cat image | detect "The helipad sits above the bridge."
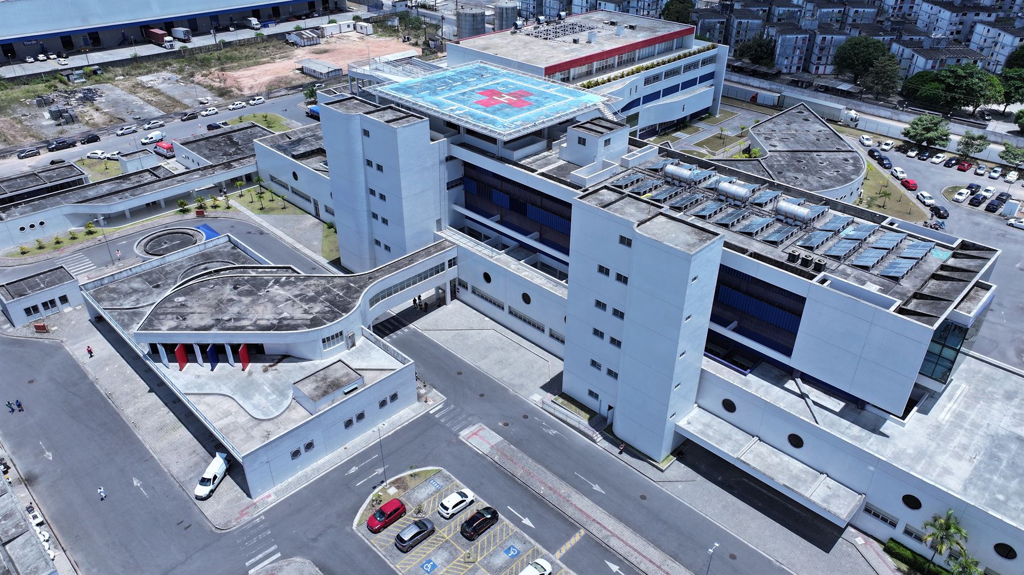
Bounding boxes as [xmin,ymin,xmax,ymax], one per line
[363,59,642,157]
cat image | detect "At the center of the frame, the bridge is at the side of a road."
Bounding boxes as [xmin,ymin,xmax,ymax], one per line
[361,256,457,331]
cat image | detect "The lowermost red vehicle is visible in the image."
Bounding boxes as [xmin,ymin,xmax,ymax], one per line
[365,497,408,535]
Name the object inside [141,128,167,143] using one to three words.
vehicle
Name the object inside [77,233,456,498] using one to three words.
building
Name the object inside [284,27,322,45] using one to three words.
shed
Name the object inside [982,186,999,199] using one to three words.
vehicle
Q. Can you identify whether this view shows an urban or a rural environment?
urban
